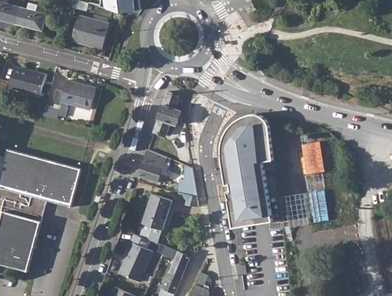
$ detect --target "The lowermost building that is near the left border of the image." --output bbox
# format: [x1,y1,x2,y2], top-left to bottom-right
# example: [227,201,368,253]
[0,213,42,272]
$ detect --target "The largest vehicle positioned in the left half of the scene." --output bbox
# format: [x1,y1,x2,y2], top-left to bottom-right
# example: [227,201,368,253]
[129,121,144,152]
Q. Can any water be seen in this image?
No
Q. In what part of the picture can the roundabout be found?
top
